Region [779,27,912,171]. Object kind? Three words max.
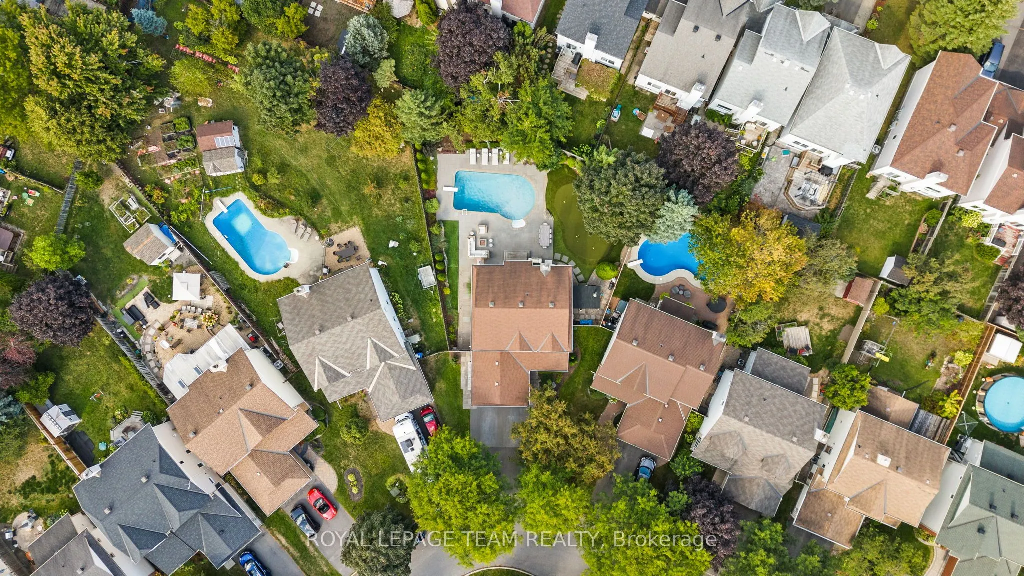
house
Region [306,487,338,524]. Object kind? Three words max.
car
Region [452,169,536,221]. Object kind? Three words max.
swimming pool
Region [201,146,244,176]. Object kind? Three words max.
shed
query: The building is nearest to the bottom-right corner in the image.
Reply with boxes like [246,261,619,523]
[920,438,1024,576]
